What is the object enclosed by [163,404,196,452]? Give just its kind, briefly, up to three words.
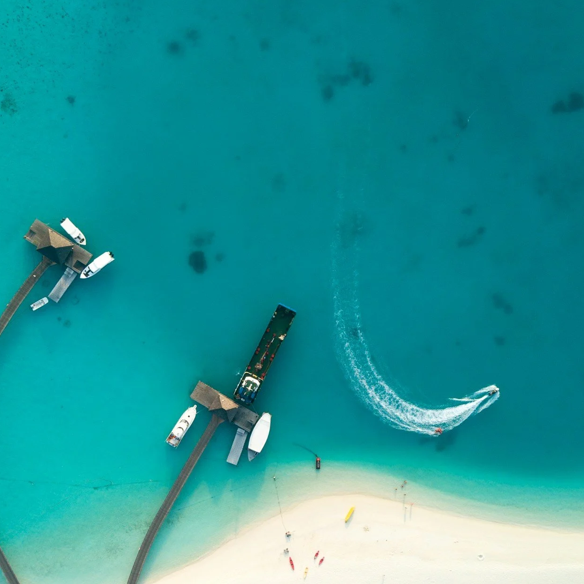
boat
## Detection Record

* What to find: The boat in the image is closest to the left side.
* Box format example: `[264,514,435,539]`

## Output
[30,297,49,311]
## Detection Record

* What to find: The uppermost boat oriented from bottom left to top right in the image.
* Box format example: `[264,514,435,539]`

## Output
[80,251,115,278]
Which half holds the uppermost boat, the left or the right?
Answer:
left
